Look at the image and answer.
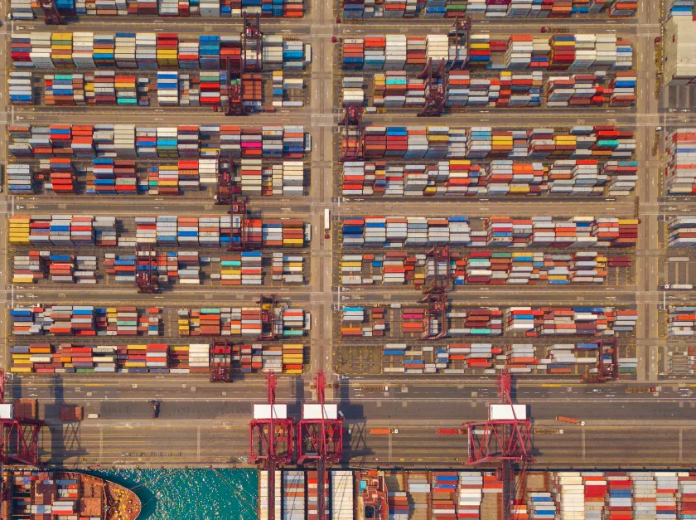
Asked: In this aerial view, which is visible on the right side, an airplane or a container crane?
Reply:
container crane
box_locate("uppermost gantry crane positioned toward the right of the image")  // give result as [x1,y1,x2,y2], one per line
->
[442,9,471,71]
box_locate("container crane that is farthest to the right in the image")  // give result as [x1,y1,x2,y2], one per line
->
[582,338,618,383]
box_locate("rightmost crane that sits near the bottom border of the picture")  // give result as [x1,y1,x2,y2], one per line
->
[455,370,535,520]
